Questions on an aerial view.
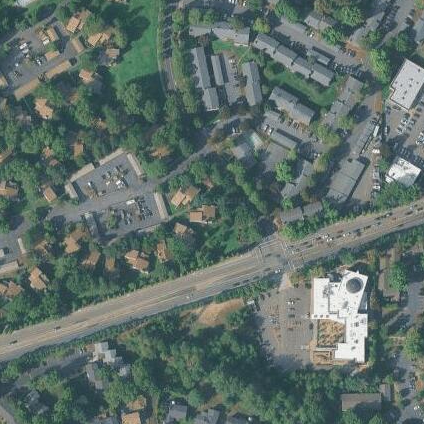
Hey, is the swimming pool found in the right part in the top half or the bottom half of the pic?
top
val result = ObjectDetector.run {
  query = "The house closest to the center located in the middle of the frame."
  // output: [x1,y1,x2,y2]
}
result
[190,203,215,224]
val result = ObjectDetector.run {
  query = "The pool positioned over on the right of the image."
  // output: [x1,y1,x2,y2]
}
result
[245,131,266,150]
